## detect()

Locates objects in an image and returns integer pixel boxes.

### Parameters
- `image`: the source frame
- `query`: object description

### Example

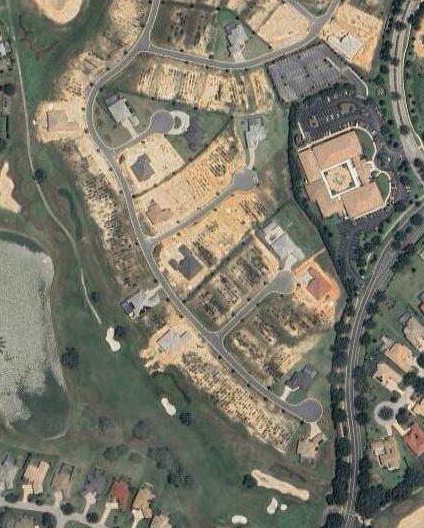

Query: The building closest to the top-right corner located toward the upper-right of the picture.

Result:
[331,28,361,61]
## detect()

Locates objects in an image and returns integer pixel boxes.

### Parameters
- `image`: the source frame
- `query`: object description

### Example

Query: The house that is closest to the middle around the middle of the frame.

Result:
[170,248,204,278]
